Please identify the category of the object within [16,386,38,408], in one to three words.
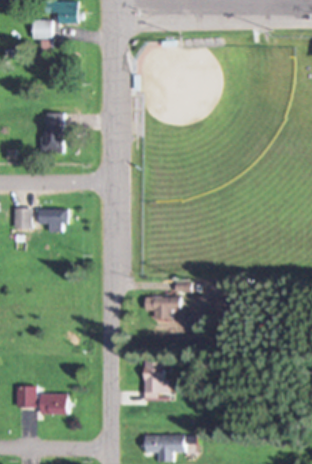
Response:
building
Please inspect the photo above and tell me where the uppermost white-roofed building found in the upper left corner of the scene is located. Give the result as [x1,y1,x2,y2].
[30,20,56,40]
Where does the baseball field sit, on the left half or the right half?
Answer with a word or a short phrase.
right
